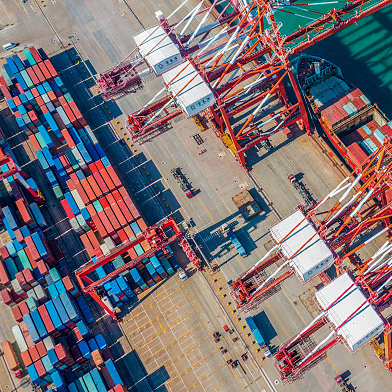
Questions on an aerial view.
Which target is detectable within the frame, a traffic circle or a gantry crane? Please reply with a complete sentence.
This aerial view contains a gantry crane.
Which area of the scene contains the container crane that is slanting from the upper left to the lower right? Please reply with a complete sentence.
You can find the container crane that is slanting from the upper left to the lower right in the left area of the picture.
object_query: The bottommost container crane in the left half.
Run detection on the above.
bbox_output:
[75,216,204,326]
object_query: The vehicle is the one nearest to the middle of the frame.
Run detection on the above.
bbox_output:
[169,167,194,199]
